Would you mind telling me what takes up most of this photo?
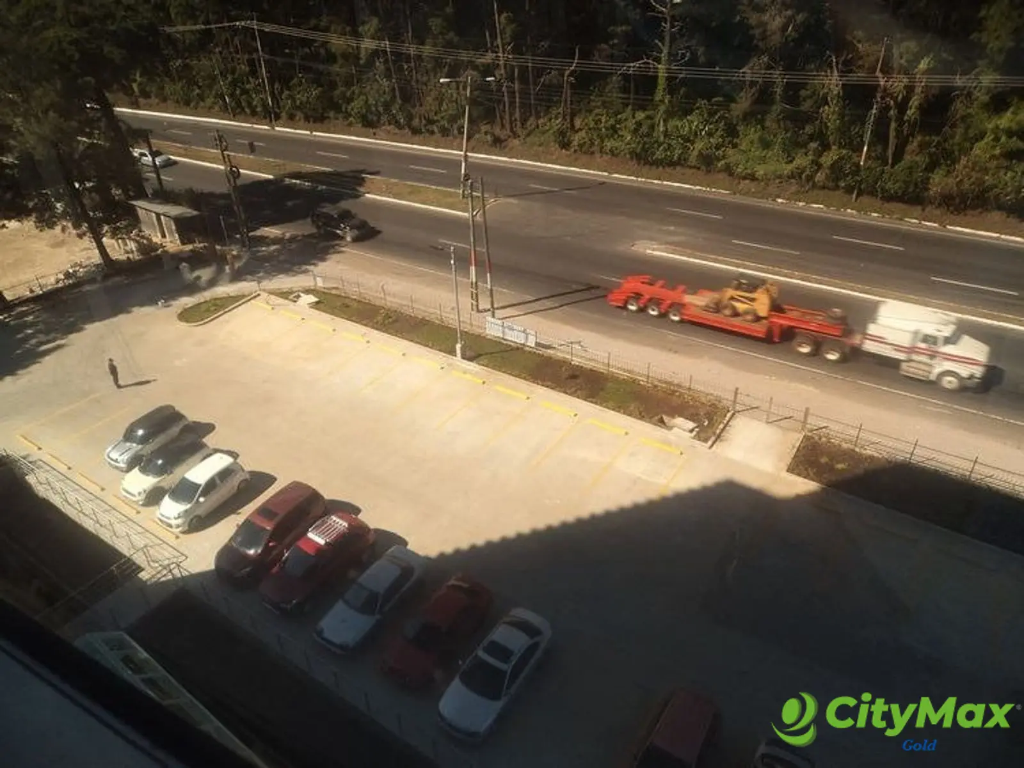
paved ground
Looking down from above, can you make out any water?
No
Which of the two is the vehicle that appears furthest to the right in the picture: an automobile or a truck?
truck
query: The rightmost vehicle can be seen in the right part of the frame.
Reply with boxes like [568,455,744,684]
[788,298,997,398]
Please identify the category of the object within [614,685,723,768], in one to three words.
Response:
car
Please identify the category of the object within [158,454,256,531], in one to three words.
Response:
car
